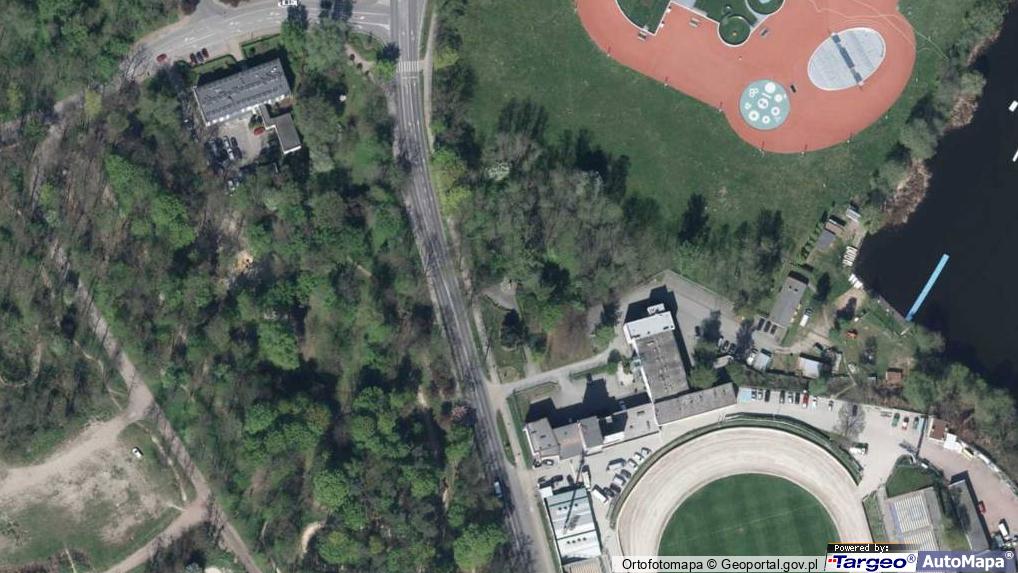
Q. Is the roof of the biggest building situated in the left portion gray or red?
gray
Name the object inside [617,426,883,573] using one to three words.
race track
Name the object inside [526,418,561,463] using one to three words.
house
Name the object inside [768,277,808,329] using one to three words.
building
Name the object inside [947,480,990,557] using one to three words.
building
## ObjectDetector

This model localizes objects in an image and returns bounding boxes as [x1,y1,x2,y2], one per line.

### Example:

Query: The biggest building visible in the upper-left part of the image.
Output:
[195,58,290,124]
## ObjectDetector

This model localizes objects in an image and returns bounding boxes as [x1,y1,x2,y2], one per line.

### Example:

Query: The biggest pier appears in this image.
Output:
[907,254,945,319]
